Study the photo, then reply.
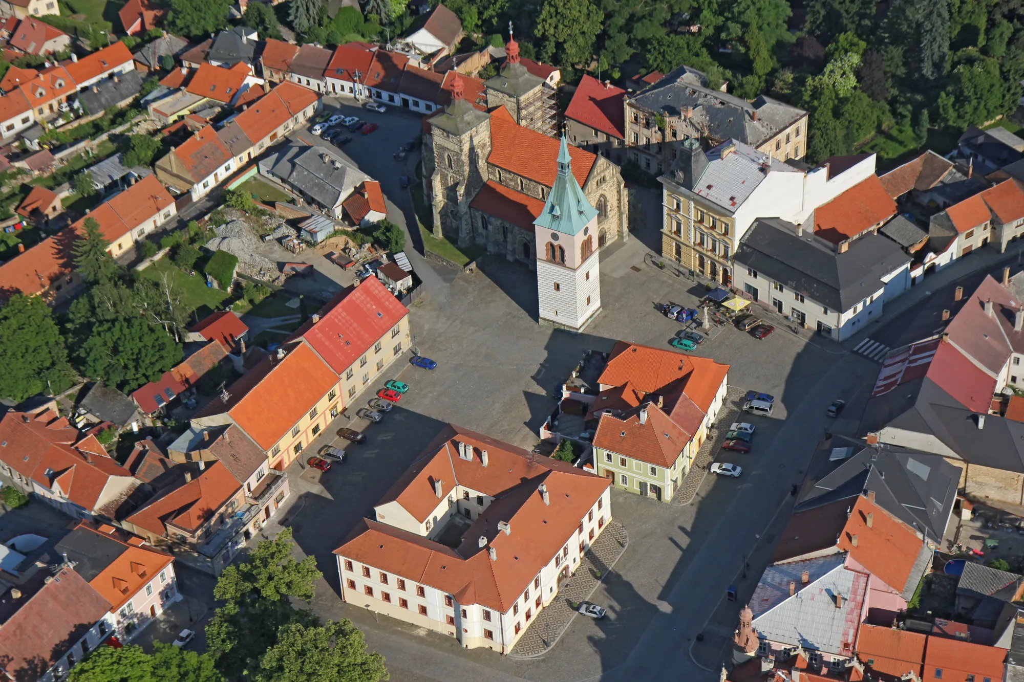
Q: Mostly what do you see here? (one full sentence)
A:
For the most part, this view shows buildings.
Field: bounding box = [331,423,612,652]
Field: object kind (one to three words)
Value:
building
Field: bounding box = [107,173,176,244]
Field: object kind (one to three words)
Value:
house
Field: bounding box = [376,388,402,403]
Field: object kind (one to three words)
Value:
car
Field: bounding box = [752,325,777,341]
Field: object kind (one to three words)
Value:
car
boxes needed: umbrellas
[719,296,753,318]
[703,288,733,309]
